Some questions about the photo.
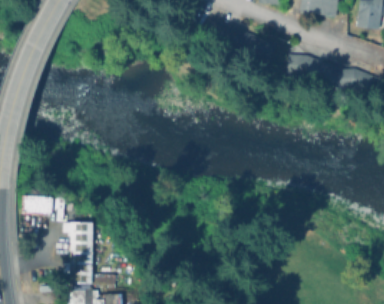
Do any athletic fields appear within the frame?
No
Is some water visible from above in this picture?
Yes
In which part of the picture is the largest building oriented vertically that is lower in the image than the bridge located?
bottom left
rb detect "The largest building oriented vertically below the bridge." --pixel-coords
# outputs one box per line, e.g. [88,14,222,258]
[63,223,94,286]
